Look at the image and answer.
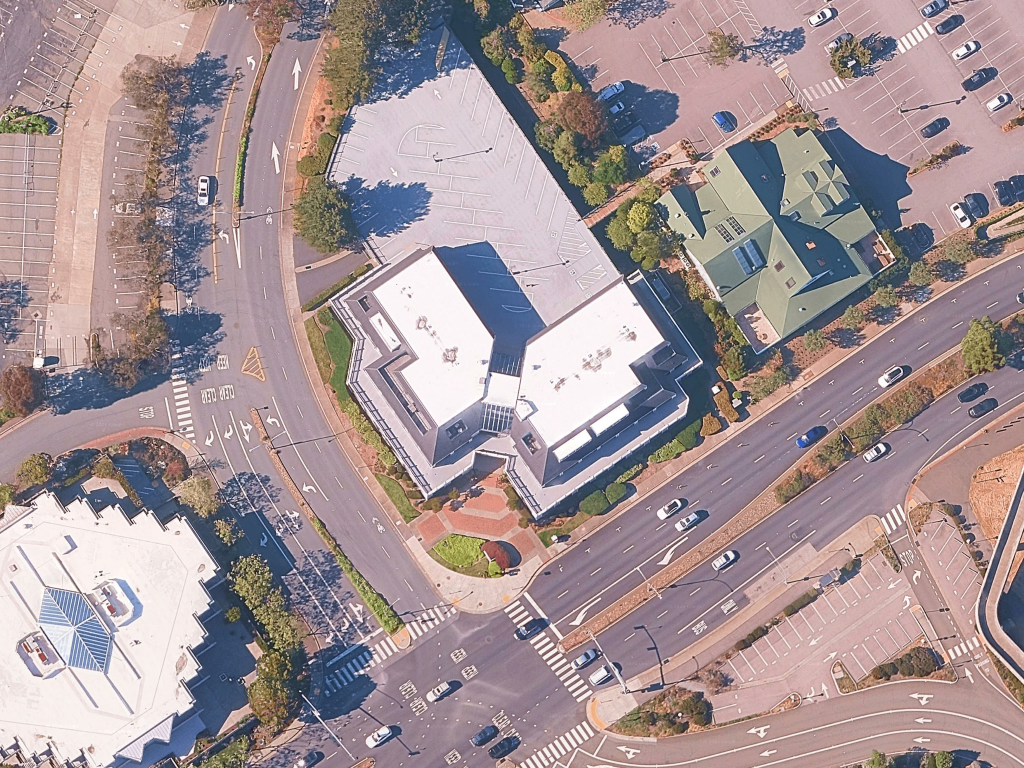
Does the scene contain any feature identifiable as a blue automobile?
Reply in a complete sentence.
Yes, there is a blue automobile in the image.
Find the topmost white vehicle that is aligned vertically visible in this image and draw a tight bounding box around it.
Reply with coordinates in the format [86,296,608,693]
[196,177,210,205]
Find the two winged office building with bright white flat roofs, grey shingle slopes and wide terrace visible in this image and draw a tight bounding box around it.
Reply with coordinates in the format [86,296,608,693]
[328,247,704,522]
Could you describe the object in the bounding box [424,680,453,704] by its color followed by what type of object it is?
white car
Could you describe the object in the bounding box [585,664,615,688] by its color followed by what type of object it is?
white vehicle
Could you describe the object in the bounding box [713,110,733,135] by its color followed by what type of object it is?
blue car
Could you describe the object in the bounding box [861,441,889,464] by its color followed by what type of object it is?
white car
